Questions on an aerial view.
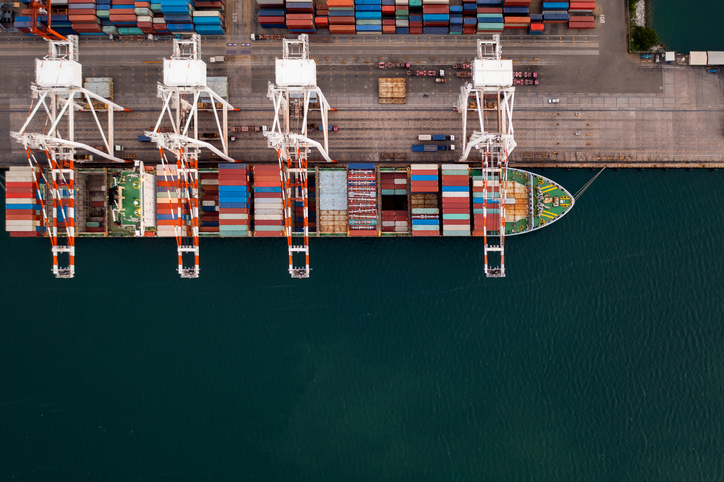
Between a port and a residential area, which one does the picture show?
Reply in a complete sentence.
It's a port.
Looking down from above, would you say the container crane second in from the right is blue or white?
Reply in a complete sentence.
The container crane second in from the right looks white in the image.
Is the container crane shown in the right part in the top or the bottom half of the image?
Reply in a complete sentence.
The container crane shown in the right part is in the top half of the image.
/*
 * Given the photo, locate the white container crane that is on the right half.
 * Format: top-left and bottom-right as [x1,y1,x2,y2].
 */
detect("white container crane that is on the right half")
[448,33,519,281]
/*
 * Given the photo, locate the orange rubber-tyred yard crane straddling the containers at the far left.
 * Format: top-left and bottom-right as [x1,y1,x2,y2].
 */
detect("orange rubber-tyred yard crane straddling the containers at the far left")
[30,0,66,36]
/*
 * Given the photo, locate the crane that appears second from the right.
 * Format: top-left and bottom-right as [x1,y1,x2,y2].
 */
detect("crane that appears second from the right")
[262,33,341,281]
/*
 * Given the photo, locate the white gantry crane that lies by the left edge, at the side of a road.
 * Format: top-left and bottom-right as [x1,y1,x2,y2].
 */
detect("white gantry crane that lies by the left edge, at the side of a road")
[6,33,134,281]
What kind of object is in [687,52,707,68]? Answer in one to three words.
shed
